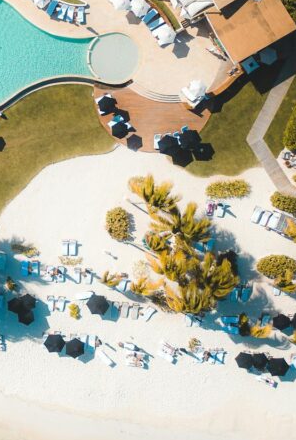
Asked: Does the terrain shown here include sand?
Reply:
Yes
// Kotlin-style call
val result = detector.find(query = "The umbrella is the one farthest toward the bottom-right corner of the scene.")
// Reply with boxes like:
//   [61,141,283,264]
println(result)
[269,356,289,378]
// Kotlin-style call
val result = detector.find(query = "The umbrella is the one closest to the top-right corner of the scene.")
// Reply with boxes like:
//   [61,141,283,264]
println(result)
[256,47,279,68]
